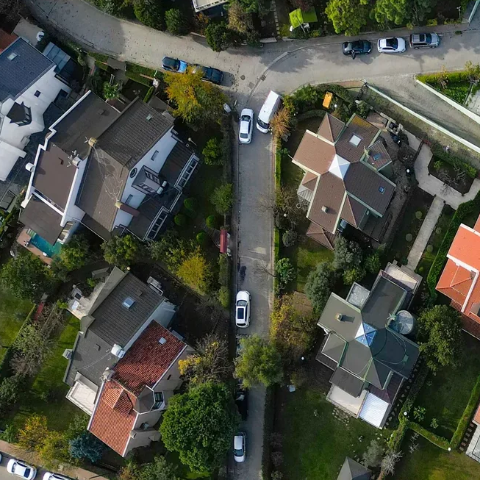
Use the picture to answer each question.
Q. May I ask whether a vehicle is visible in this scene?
Yes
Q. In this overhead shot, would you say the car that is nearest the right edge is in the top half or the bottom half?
top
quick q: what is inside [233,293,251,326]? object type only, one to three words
car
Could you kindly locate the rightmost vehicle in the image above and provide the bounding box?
[407,31,441,51]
